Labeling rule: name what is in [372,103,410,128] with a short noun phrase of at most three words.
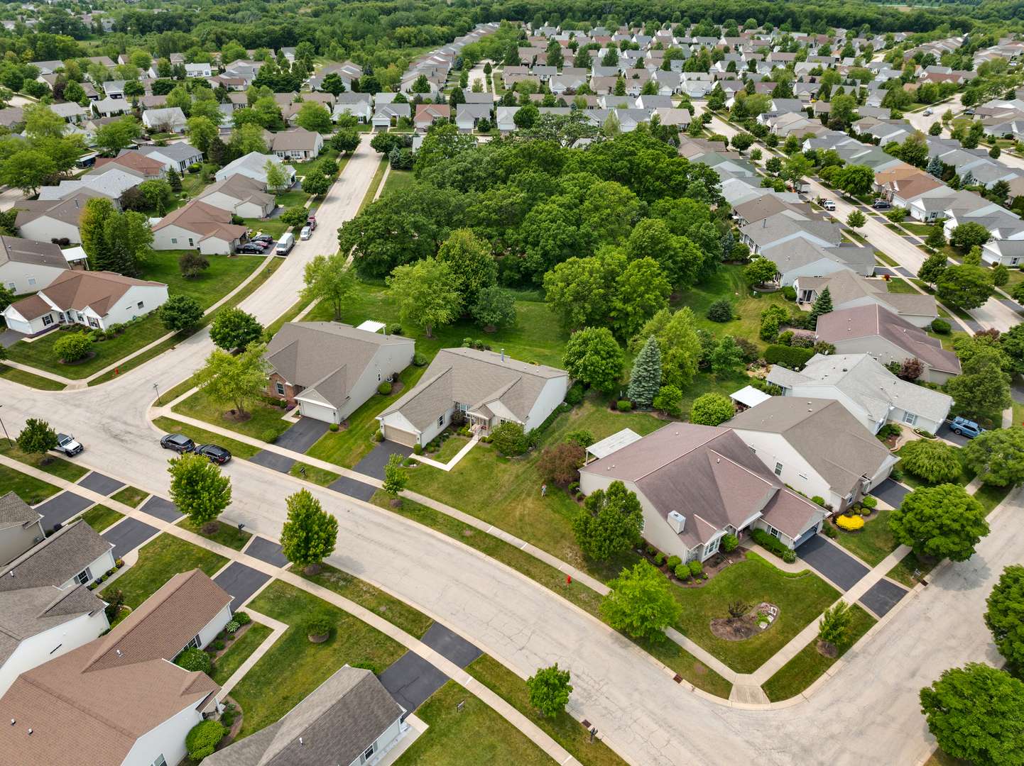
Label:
house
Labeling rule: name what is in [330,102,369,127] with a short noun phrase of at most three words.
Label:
house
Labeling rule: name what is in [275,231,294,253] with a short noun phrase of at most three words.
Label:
vehicle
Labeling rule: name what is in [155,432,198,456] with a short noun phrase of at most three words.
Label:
car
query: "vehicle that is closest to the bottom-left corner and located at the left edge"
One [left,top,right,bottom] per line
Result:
[51,429,84,458]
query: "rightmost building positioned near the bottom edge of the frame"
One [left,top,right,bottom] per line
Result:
[170,666,408,766]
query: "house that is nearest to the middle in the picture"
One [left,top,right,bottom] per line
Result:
[375,349,568,449]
